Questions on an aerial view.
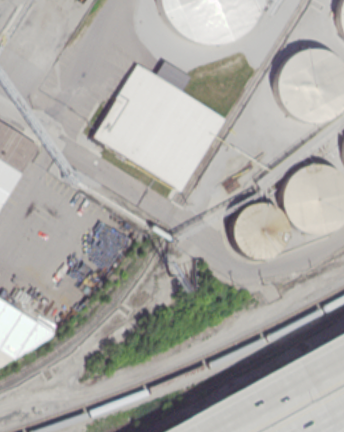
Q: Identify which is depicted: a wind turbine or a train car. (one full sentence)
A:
The one in the frame is a train car.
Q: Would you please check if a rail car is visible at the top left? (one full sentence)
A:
No, I can find no rail car at the top left.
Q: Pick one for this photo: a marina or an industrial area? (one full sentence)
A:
It's an industrial area.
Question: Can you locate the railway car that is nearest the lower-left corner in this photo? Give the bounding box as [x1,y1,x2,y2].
[25,412,88,432]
